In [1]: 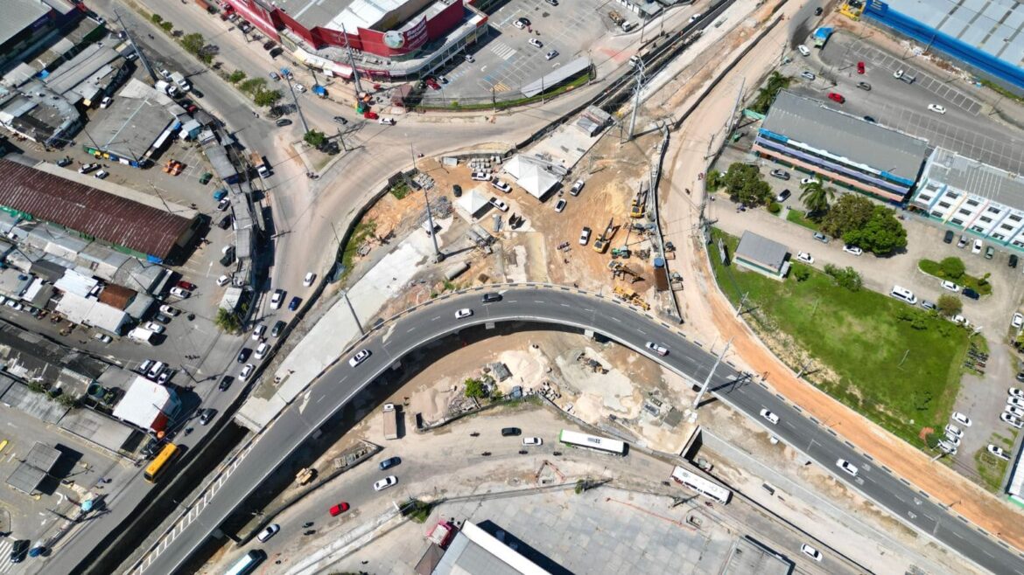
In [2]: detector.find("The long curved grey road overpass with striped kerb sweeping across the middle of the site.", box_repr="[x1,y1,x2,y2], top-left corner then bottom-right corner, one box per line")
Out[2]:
[124,284,1024,575]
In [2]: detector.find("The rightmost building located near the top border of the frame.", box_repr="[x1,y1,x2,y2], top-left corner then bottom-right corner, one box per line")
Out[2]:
[855,0,1024,103]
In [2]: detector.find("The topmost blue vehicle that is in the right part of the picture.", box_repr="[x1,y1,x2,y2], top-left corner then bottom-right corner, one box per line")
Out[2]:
[815,24,834,44]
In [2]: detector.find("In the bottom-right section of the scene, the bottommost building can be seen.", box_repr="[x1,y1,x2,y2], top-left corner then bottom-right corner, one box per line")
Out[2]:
[722,536,793,575]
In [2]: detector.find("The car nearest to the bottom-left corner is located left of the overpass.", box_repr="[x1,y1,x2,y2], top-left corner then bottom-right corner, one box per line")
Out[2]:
[10,538,31,565]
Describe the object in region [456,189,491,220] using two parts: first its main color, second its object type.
white tent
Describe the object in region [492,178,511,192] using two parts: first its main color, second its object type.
white vehicle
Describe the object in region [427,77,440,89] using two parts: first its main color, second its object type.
red vehicle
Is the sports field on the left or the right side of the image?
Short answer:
right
